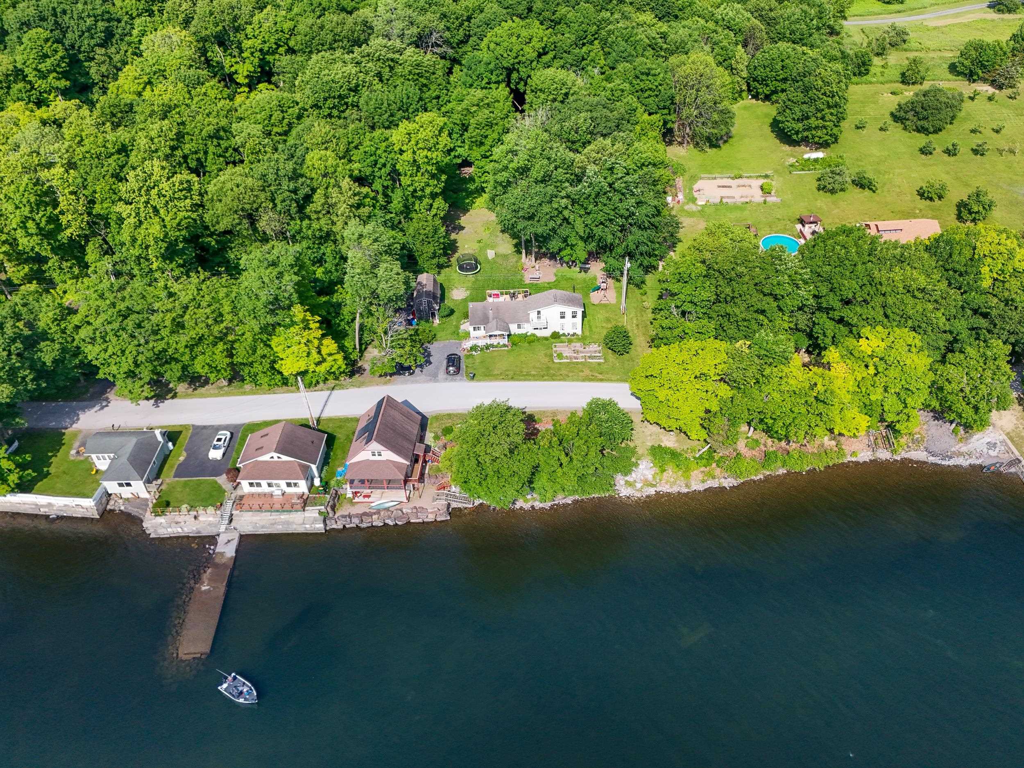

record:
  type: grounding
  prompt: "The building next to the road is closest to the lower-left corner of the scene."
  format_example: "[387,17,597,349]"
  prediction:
[84,426,174,497]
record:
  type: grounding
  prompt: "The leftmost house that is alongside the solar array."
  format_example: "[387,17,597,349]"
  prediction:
[235,421,327,512]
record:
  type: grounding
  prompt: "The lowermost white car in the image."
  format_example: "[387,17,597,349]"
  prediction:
[207,430,230,459]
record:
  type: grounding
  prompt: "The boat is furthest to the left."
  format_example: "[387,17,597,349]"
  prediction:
[218,673,260,704]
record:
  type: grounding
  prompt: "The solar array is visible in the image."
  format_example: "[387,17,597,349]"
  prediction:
[355,398,382,451]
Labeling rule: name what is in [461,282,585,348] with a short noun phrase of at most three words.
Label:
house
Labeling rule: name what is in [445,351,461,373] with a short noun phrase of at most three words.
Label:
car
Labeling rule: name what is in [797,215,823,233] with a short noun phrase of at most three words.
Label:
gazebo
